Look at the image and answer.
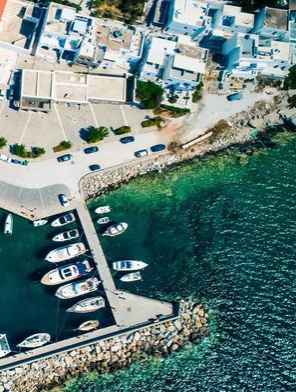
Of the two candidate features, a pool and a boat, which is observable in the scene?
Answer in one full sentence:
This aerial view contains a boat.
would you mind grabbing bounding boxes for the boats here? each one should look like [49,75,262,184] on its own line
[3,214,12,236]
[52,229,80,242]
[73,321,99,331]
[56,279,103,298]
[50,213,77,227]
[103,222,128,236]
[62,296,110,336]
[111,260,148,276]
[117,273,142,288]
[0,336,10,355]
[96,217,110,224]
[16,334,56,351]
[95,206,111,214]
[32,220,48,226]
[41,260,91,284]
[44,241,89,262]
